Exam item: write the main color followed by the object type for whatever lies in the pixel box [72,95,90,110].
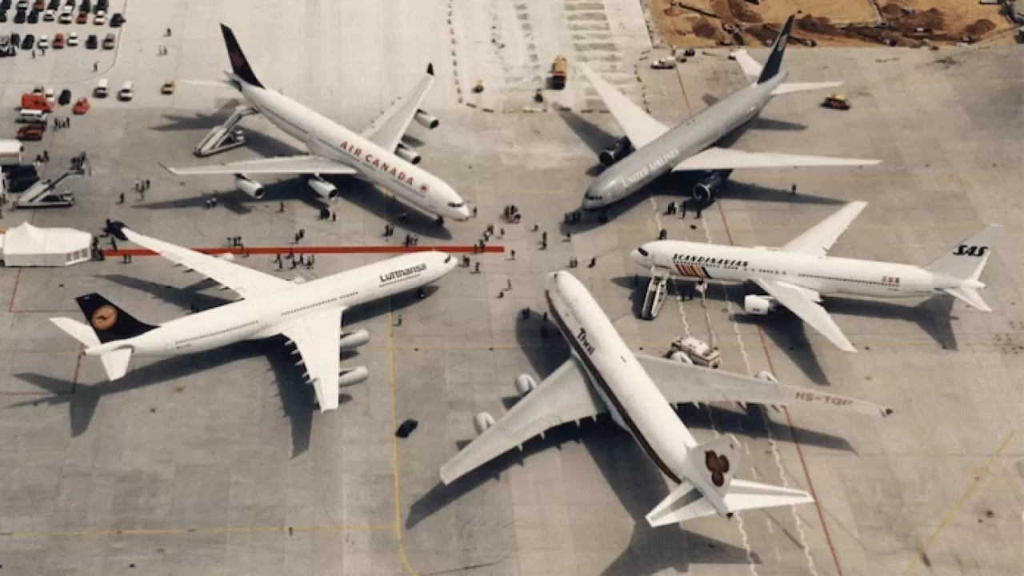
red car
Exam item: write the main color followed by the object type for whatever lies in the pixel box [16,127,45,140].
red vehicle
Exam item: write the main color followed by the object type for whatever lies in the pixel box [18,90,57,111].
red truck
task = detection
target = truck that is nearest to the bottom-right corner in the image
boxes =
[665,332,717,363]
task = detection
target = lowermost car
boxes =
[394,418,419,433]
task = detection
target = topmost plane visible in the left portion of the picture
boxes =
[154,23,473,224]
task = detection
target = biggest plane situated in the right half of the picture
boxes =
[446,268,889,528]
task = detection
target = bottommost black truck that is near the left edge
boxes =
[1,164,42,195]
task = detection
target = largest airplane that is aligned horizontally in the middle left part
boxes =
[49,224,458,414]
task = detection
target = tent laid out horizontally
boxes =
[3,223,92,266]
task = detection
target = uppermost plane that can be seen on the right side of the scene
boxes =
[577,15,880,221]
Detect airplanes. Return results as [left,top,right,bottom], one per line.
[154,23,473,224]
[577,15,880,221]
[49,224,458,414]
[446,268,889,528]
[631,201,1006,351]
